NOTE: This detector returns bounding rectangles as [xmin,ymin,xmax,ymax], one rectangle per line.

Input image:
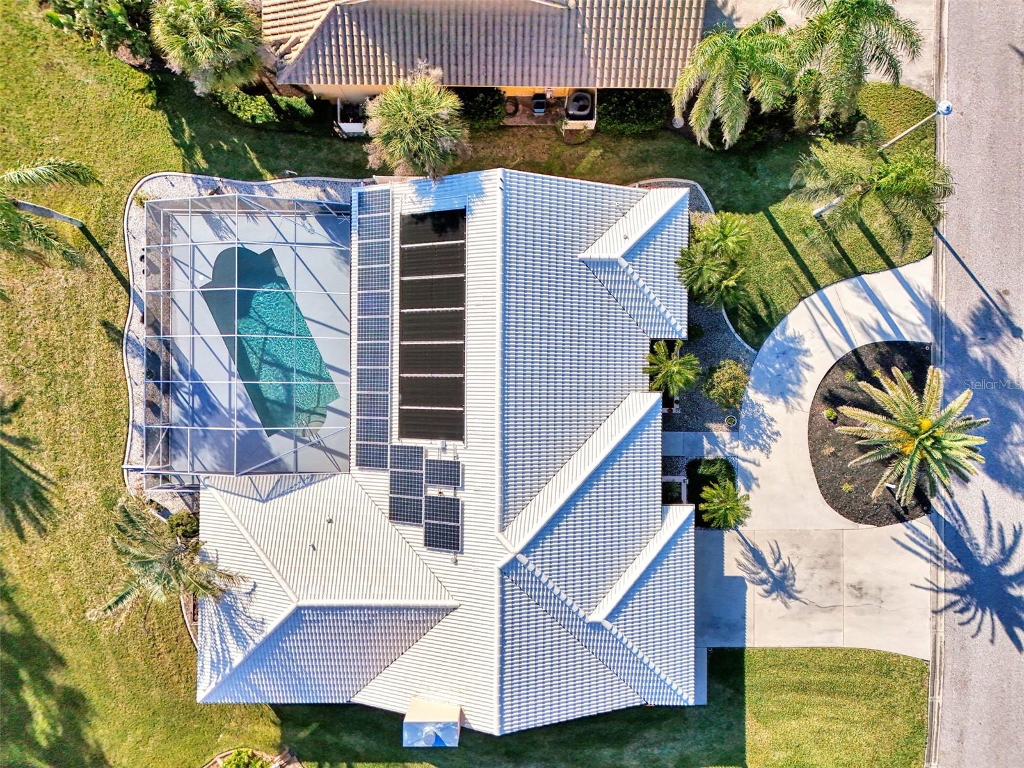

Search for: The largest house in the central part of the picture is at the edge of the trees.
[196,167,698,749]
